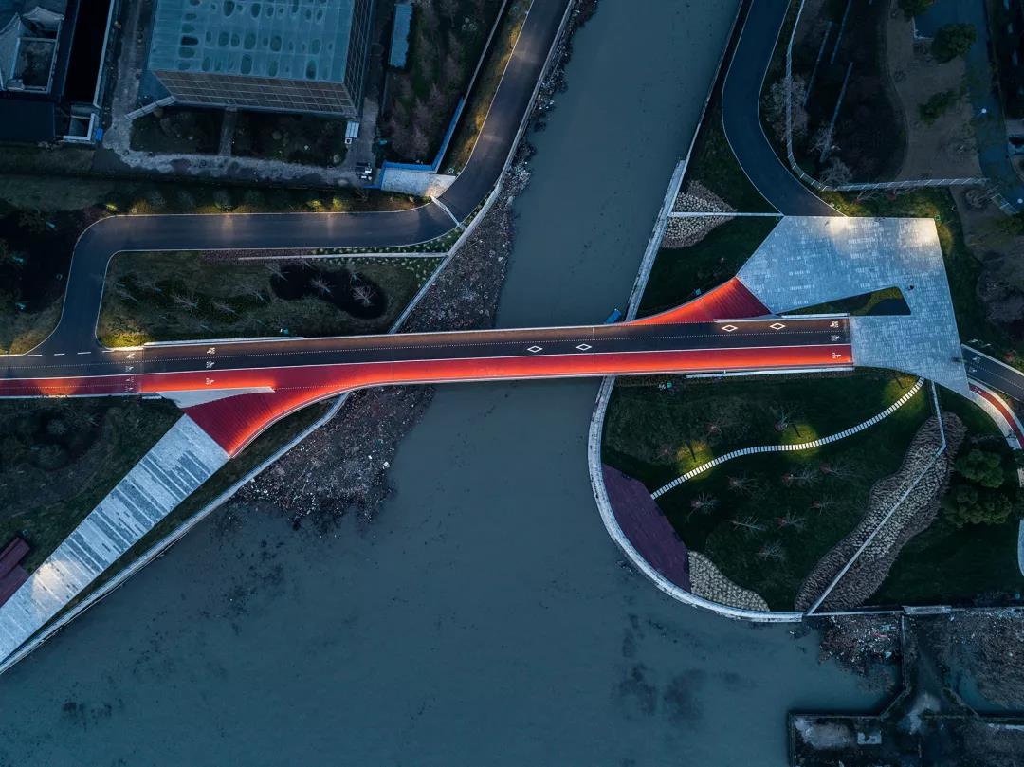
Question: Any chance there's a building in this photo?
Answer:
Yes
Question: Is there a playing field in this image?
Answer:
No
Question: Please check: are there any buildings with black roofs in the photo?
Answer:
Yes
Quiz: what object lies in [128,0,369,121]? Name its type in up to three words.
building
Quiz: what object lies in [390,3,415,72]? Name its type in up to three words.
shed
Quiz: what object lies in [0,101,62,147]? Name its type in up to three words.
building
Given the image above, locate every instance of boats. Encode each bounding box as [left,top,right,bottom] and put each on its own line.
[607,308,622,323]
